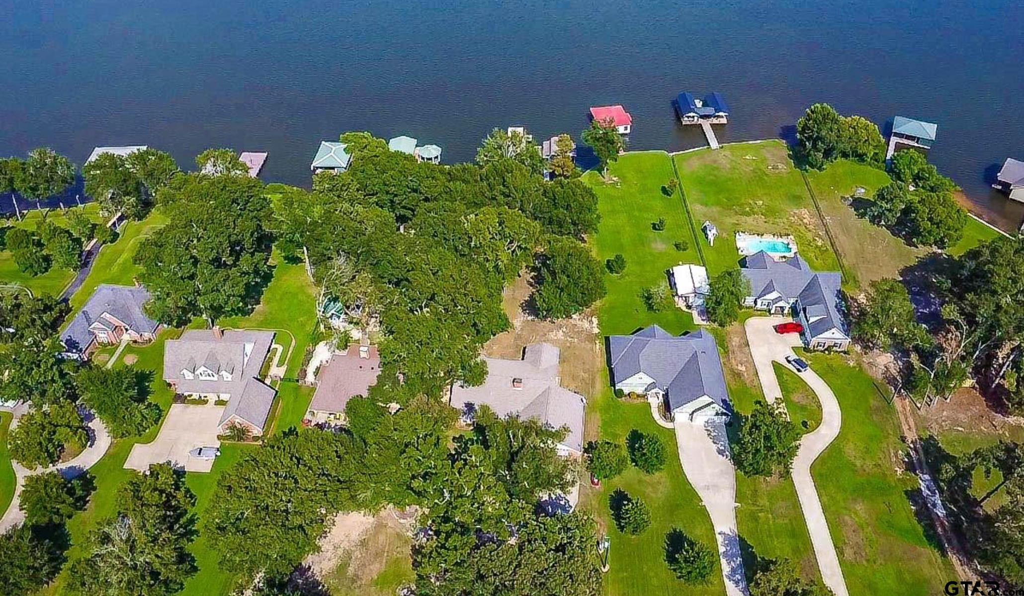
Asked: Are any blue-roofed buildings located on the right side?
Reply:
Yes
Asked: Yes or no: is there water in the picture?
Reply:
Yes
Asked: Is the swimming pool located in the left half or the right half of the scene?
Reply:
right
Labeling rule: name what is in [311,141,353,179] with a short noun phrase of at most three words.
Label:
building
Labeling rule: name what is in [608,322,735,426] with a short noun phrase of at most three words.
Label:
house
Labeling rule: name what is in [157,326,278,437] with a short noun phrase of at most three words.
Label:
house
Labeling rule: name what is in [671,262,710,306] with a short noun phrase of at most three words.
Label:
shed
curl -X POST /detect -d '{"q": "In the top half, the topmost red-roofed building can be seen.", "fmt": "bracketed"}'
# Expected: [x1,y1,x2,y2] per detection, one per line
[590,107,632,141]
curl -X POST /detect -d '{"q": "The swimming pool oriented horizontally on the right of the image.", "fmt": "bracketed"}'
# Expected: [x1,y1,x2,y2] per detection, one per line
[736,231,798,260]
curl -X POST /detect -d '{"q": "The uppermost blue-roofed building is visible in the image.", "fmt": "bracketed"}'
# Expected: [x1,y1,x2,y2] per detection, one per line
[673,90,731,131]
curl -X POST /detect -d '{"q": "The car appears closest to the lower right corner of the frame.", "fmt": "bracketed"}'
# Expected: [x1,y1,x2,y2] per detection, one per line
[783,352,813,373]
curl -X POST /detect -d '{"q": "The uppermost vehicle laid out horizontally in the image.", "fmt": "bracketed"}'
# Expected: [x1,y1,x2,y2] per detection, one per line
[775,323,805,337]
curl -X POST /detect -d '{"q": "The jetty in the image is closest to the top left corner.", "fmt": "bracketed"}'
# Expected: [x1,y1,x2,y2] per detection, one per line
[234,149,269,182]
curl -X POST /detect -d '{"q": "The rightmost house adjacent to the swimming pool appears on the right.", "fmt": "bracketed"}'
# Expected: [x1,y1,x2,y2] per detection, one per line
[729,246,853,351]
